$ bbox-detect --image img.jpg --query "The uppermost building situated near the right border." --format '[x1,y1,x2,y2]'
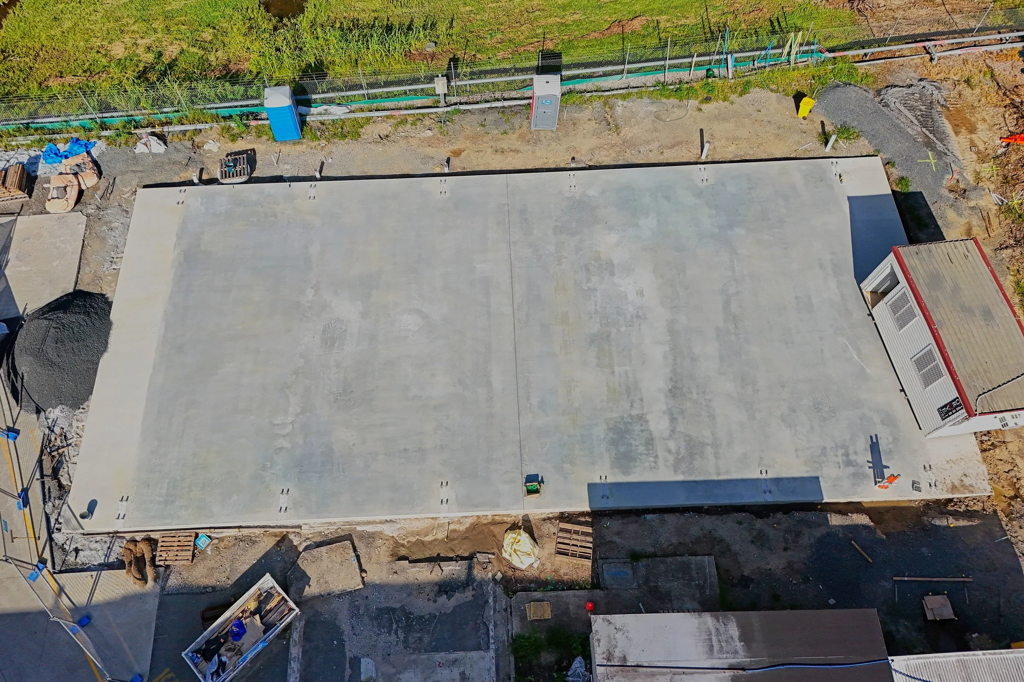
[859,233,1024,438]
